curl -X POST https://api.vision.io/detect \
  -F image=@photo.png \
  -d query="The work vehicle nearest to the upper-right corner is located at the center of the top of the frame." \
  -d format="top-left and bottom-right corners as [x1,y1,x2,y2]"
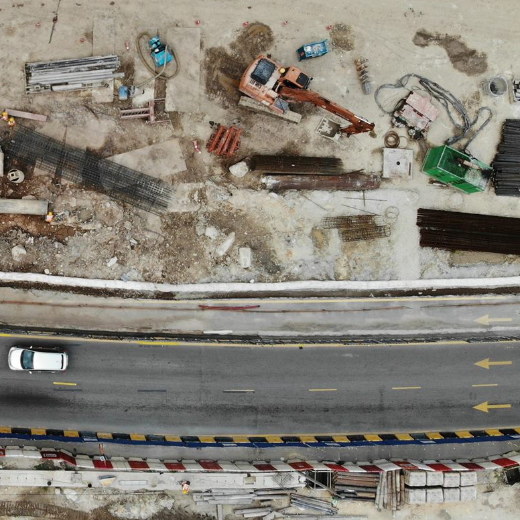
[233,53,377,140]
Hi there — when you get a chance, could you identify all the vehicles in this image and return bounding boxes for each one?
[7,344,69,375]
[233,53,377,140]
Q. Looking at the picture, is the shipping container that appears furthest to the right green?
Yes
